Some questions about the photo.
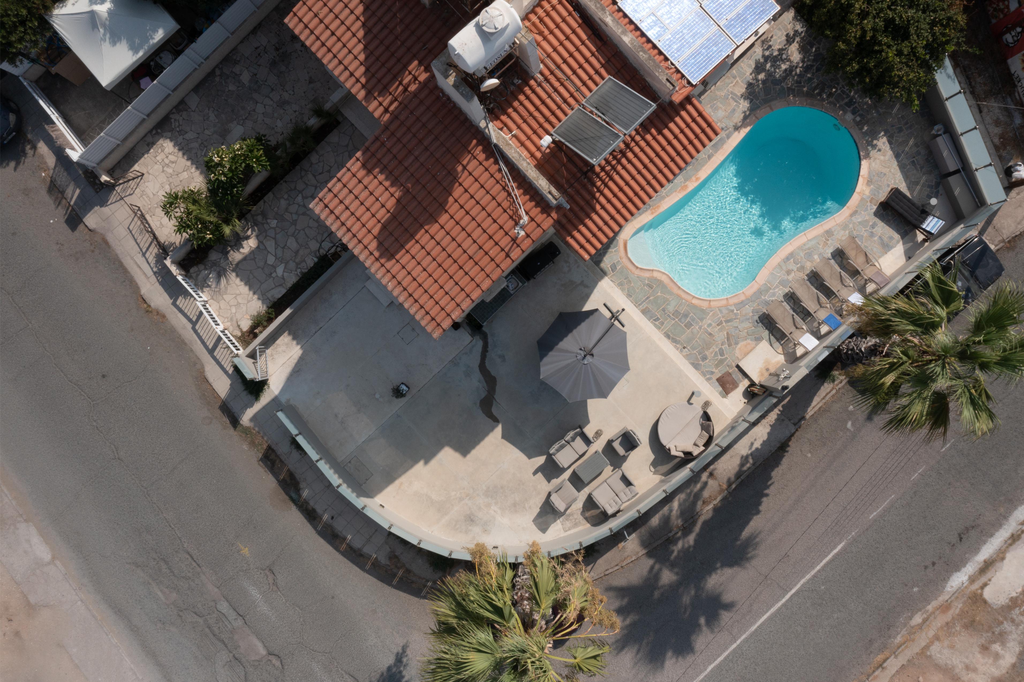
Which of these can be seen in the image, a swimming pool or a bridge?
swimming pool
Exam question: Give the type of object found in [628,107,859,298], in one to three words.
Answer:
swimming pool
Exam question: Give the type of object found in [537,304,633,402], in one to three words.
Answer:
umbrella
